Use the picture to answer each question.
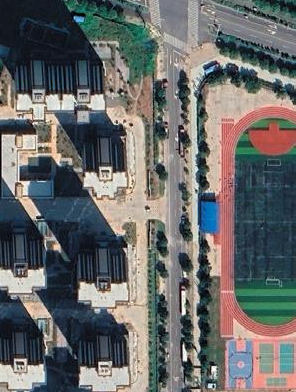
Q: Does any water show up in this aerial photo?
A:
No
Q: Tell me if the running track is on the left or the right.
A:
right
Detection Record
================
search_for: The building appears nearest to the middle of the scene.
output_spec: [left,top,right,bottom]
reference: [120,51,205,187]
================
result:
[81,134,128,199]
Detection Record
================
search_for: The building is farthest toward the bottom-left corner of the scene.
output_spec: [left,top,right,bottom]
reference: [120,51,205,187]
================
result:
[0,326,47,391]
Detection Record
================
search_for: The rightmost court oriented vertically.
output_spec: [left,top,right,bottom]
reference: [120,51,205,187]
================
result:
[280,343,294,372]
